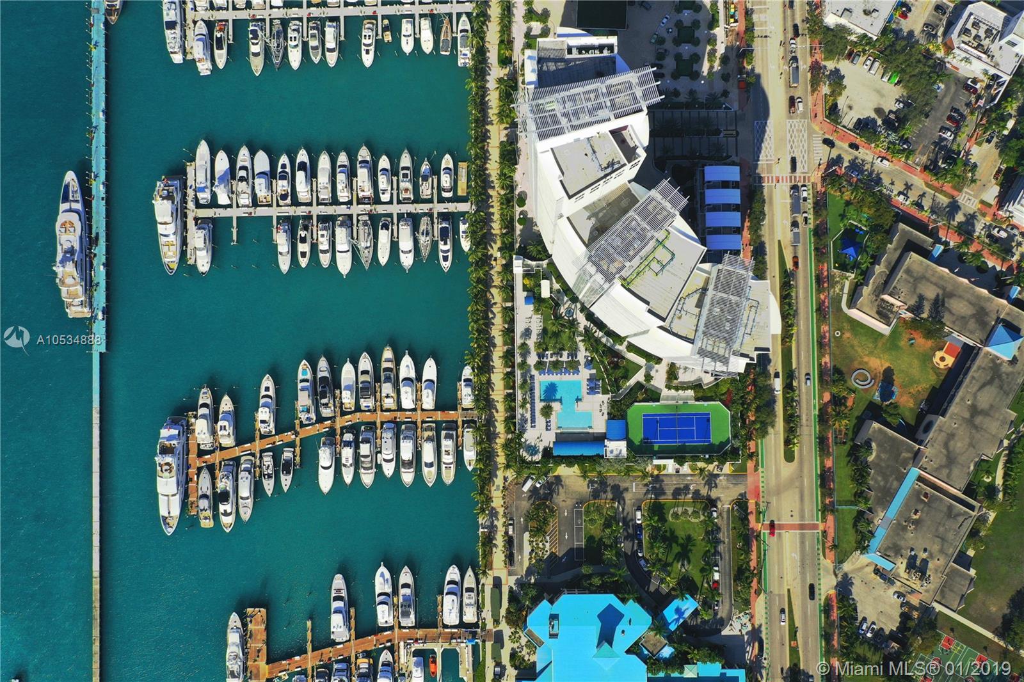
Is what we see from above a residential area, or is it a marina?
marina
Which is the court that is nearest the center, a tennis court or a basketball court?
tennis court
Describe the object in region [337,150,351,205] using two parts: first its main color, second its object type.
white boat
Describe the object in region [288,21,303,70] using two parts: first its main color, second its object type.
white boat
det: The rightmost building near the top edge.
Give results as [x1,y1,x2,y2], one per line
[933,1,1024,111]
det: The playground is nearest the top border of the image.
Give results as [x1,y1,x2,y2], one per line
[832,222,868,273]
